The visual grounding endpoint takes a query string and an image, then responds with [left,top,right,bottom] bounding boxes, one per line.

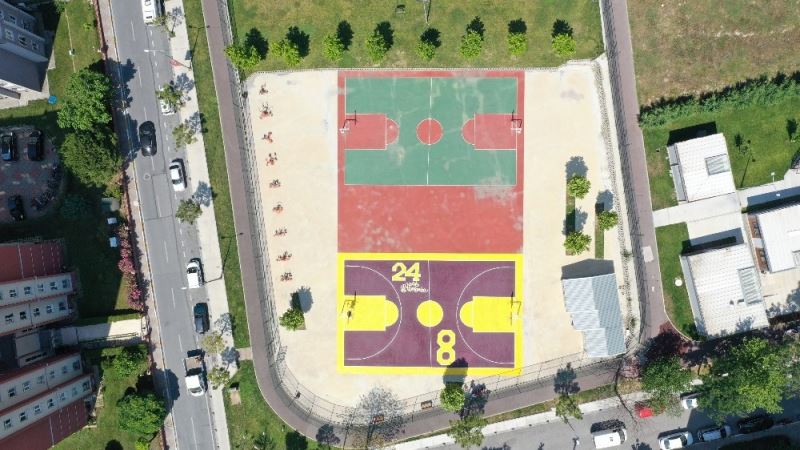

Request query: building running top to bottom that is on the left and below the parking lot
[0,241,95,450]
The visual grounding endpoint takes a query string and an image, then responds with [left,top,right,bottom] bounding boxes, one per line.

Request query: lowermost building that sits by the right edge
[678,242,769,338]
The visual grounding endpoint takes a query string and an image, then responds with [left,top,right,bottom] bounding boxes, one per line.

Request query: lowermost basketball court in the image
[338,252,523,375]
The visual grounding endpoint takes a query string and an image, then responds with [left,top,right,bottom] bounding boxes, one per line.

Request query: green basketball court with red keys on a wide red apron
[338,70,525,253]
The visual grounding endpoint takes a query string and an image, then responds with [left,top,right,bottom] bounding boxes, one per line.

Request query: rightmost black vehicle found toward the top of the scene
[135,119,156,157]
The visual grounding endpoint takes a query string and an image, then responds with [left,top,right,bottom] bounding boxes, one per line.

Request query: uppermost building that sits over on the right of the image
[668,134,736,202]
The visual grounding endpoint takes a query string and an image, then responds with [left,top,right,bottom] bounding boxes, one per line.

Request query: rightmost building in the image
[745,201,800,274]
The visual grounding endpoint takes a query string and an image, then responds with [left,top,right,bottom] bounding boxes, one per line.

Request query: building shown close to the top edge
[0,0,49,105]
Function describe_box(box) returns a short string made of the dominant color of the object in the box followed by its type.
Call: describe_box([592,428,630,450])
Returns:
white vehicle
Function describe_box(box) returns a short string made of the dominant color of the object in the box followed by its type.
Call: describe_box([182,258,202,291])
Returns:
white car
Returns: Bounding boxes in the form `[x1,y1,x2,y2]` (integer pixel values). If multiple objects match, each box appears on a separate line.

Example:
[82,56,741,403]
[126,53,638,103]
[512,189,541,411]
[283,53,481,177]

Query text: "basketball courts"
[338,252,523,375]
[338,70,525,253]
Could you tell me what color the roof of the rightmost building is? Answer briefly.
white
